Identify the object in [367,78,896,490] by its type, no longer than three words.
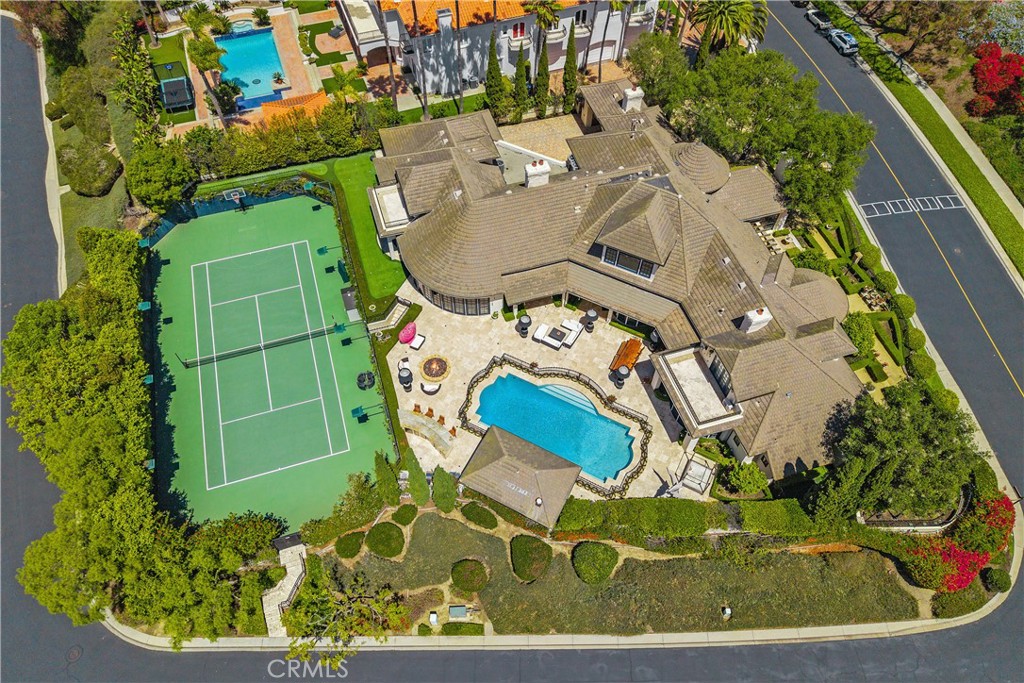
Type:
house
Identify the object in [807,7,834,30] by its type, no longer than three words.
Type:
car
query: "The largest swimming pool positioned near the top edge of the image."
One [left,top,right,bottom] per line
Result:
[213,27,291,104]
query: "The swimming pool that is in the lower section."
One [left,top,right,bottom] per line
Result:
[468,366,642,489]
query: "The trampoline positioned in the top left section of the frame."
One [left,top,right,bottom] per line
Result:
[155,65,196,113]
